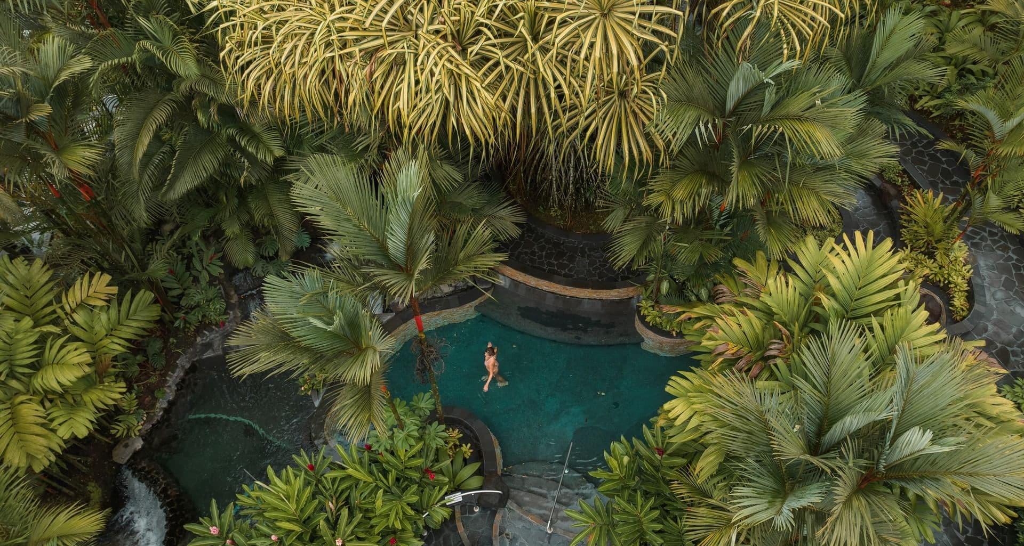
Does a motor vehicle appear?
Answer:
No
